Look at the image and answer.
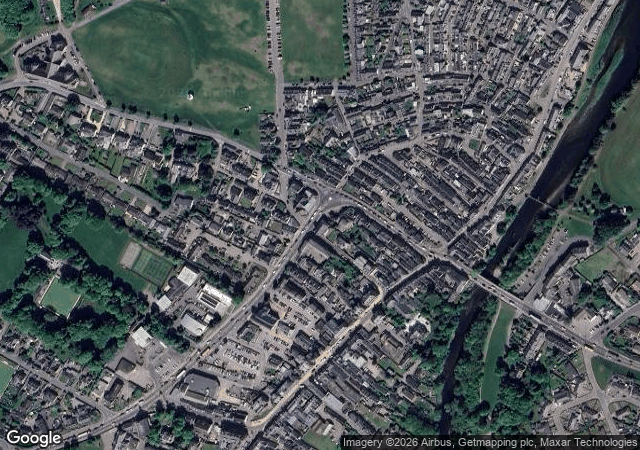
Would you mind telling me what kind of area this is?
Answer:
residential area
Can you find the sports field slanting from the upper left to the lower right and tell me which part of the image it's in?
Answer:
left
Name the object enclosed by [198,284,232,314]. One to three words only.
building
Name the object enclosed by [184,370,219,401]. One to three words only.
building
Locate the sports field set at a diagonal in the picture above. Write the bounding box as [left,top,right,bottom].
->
[74,216,158,296]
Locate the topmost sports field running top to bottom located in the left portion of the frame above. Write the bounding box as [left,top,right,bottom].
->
[0,218,28,301]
